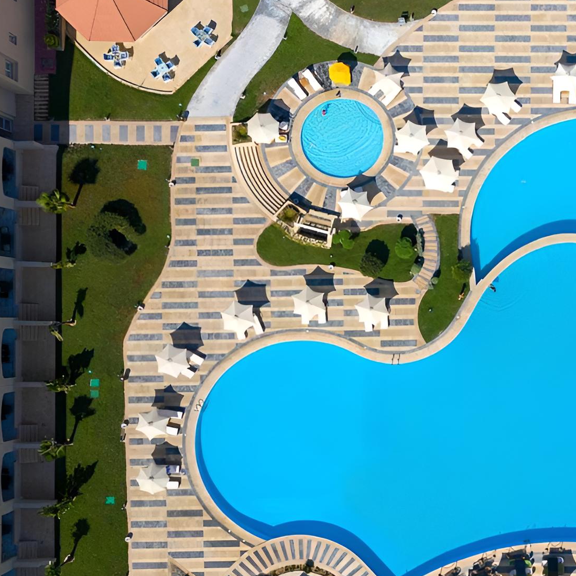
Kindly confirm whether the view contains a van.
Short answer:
No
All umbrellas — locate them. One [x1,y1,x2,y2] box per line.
[156,341,193,376]
[221,295,257,336]
[394,118,431,156]
[337,183,372,220]
[289,282,329,320]
[370,60,406,100]
[139,457,174,496]
[481,77,519,114]
[548,56,576,95]
[443,114,482,151]
[421,156,460,190]
[243,107,284,149]
[136,402,171,440]
[354,287,389,329]
[329,64,353,88]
